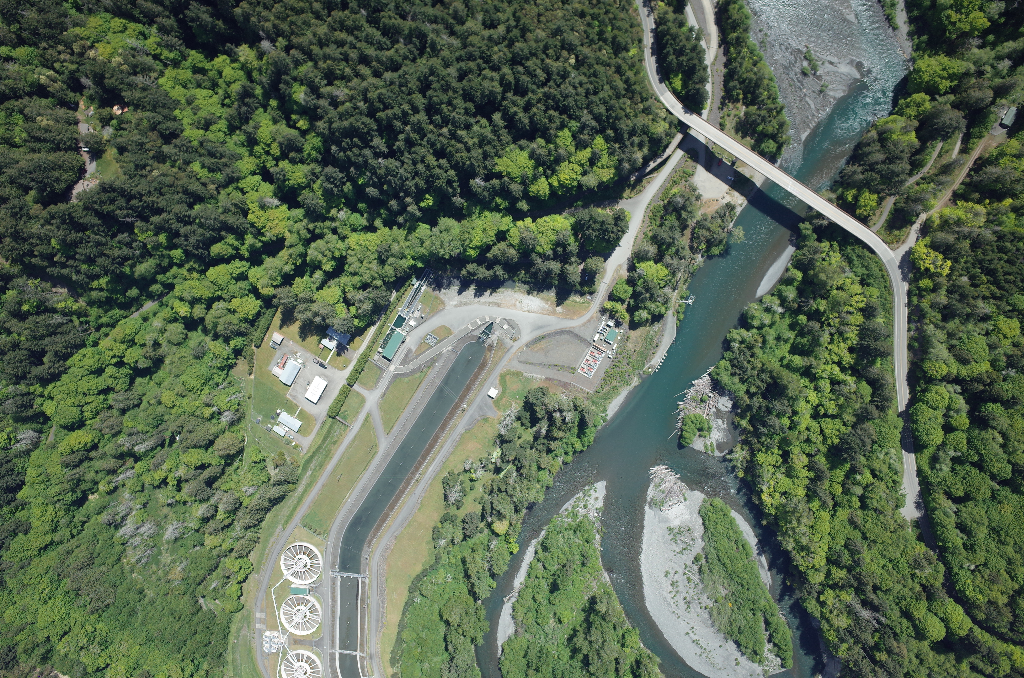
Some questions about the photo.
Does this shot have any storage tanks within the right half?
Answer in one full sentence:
No, I see no storage tank within the right half.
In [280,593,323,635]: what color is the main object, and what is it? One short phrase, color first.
white storage tank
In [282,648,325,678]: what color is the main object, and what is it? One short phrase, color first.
white storage tank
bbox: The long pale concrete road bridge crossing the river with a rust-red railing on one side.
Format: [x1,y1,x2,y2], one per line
[660,86,896,263]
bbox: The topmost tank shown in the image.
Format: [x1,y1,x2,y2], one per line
[281,542,323,585]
